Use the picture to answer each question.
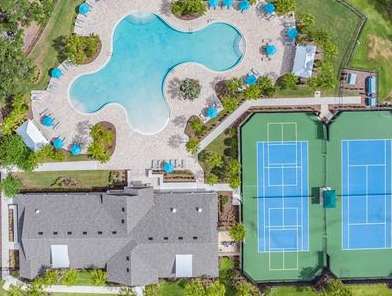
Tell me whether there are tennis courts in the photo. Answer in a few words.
Yes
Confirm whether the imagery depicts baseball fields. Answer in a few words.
No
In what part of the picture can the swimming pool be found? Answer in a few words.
top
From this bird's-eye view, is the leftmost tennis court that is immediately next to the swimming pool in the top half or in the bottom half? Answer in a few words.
bottom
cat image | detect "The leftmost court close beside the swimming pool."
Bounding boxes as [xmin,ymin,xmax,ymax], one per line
[241,113,327,280]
